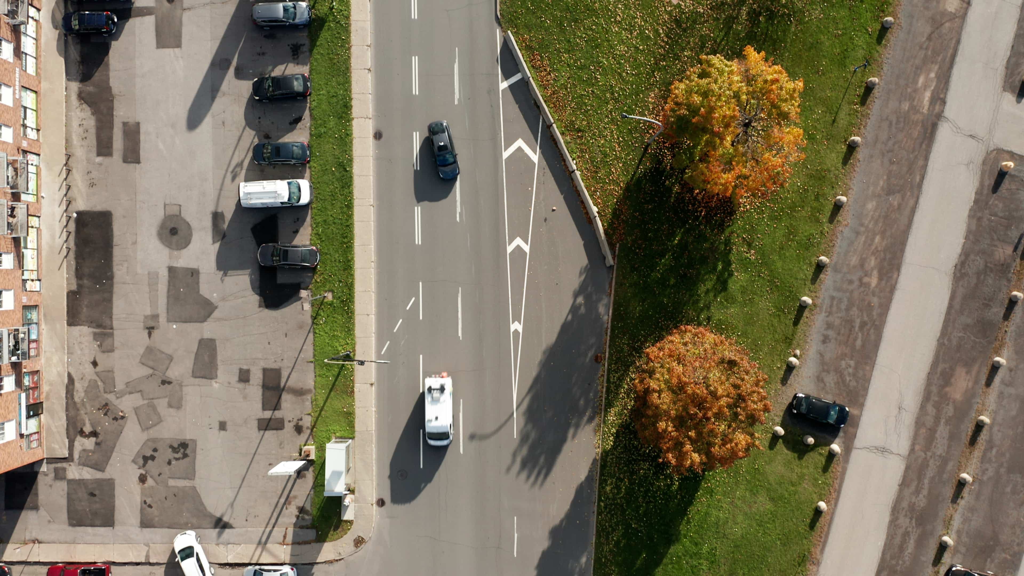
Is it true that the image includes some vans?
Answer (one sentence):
Yes, the photo shows a van.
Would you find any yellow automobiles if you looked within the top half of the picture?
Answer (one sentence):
No, no yellow automobile appears within the top half of the picture.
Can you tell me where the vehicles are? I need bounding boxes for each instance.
[252,2,312,31]
[238,178,314,208]
[243,566,298,576]
[258,243,321,268]
[44,564,110,576]
[787,391,849,424]
[177,530,215,576]
[60,8,116,36]
[253,141,312,166]
[425,371,456,443]
[252,77,312,103]
[948,567,987,576]
[429,120,460,181]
